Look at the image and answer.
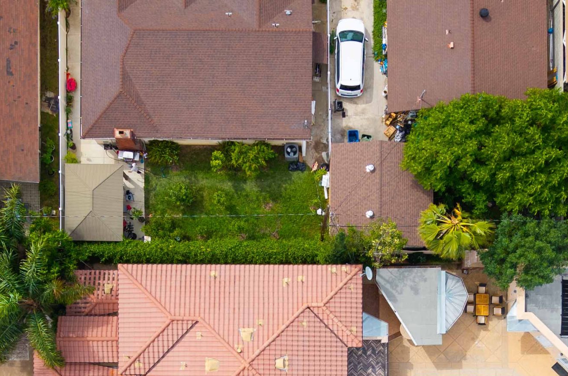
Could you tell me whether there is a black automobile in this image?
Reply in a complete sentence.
No, I can't see a single black automobile in this photo.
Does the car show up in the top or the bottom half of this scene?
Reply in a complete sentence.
You can find the car in the top half.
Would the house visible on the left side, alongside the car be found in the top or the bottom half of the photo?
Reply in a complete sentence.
Seen from above, the house visible on the left side, alongside the car lies in the top half of the view.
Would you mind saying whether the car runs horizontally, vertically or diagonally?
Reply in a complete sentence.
The car is laid out vertically.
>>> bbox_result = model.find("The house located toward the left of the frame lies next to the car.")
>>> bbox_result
[78,0,327,163]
